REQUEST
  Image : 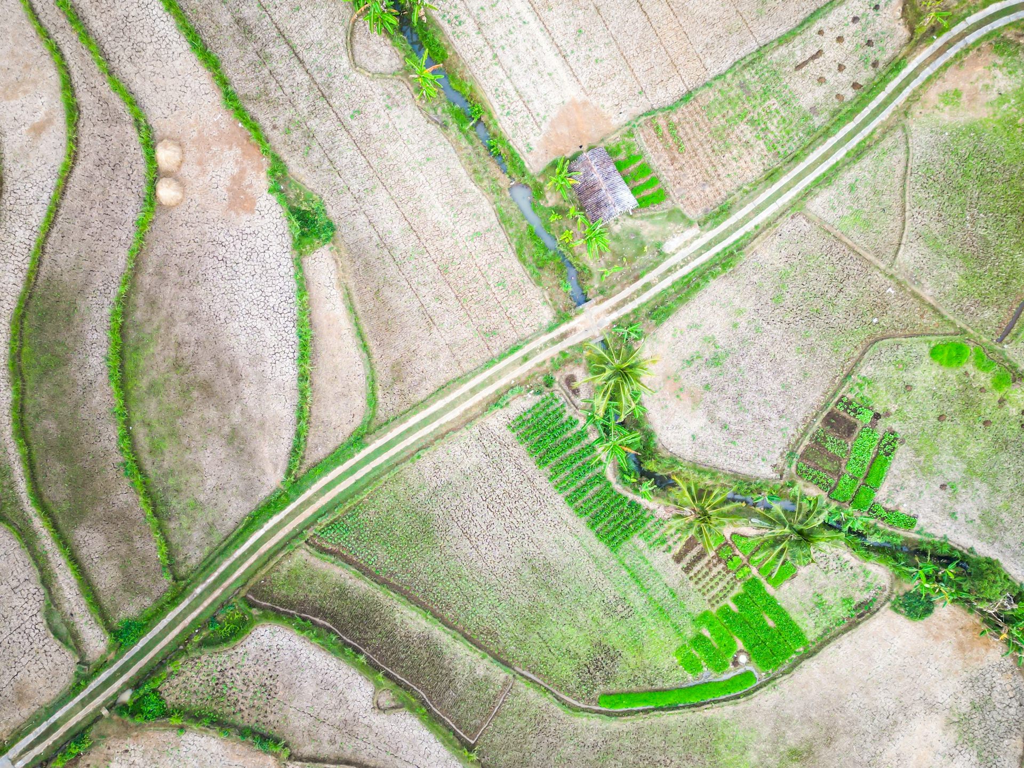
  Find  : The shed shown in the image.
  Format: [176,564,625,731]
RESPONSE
[565,146,636,227]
